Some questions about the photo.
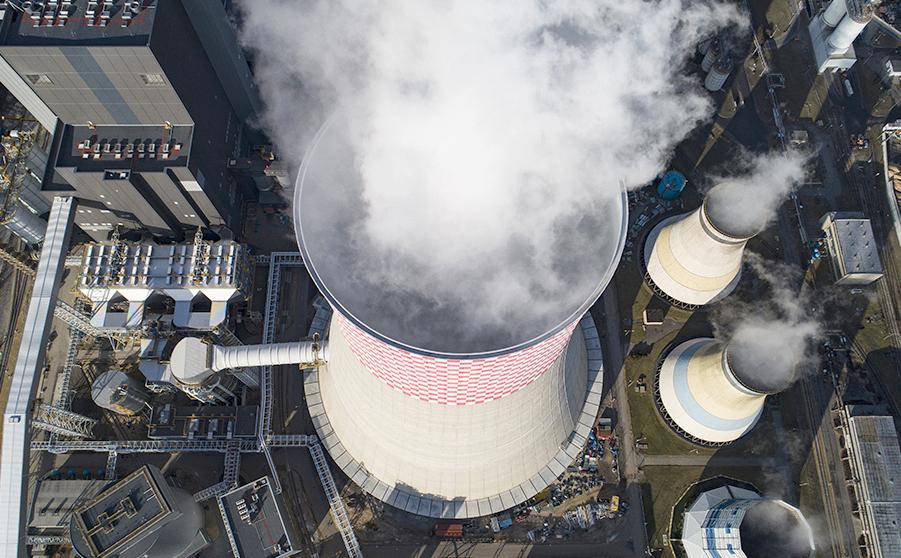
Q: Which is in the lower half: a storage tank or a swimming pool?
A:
storage tank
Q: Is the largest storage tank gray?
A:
Yes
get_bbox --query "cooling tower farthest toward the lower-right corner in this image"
[667,477,818,558]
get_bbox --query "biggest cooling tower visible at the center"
[293,62,629,522]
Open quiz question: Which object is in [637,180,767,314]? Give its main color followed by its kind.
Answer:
white cooling tower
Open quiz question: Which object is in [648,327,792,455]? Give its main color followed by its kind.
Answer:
white cooling tower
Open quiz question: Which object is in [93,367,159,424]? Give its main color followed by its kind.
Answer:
gray storage tank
